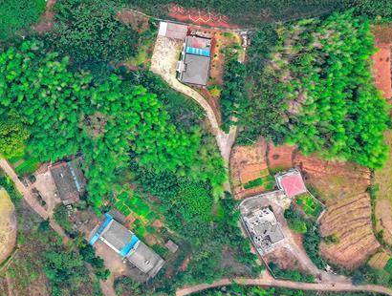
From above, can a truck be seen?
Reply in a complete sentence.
No, no truck is visible in the scene.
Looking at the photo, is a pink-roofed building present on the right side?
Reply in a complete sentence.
Yes, a pink-roofed building shows up on the right side.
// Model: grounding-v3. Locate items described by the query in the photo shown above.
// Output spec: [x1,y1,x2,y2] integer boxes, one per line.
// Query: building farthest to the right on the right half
[280,173,306,197]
